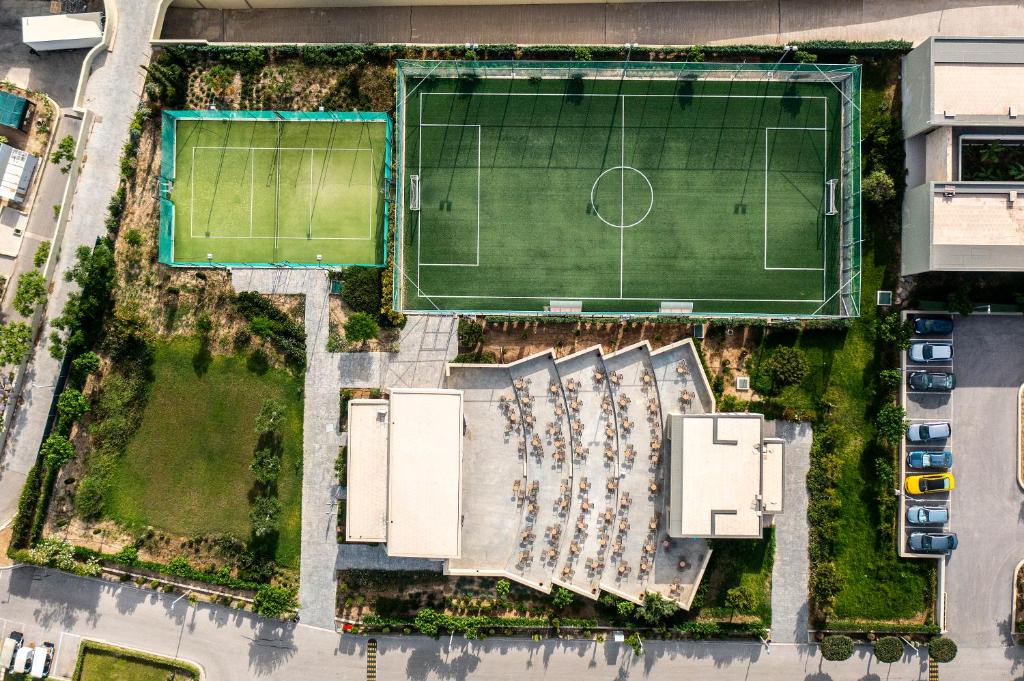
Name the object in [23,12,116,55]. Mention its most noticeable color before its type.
white truck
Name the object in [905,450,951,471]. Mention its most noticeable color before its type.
blue car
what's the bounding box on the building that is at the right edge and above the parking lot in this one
[901,37,1024,279]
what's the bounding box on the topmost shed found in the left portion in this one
[0,91,31,132]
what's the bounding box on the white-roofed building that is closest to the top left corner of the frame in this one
[0,139,41,207]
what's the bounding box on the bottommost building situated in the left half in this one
[346,388,469,559]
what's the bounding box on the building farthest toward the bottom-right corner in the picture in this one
[660,412,785,539]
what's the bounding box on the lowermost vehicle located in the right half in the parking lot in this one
[907,531,957,554]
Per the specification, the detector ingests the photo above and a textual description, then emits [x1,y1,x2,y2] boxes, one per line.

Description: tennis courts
[172,121,388,268]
